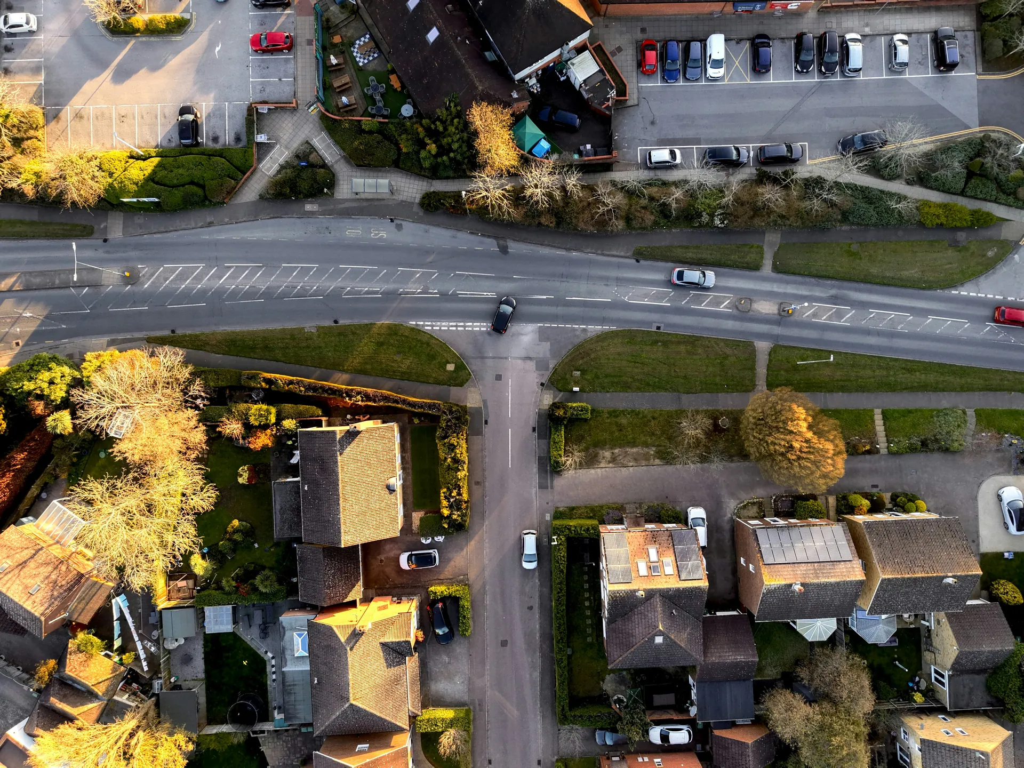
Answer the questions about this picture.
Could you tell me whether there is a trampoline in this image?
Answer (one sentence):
Yes, I can see a trampoline in this picture.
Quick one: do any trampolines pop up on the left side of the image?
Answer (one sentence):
Yes, a trampoline is visible on the left side of the image.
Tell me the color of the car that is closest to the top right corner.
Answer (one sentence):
The car that is closest to the top right corner looks black in the image.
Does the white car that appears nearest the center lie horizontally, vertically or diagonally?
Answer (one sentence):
Seen from above, the white car that appears nearest the center lies vertically.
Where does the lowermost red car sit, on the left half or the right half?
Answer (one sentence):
The lowermost red car appears in the right half of the scene.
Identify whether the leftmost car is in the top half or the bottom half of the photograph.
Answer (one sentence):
It is in the top half that the leftmost car appears.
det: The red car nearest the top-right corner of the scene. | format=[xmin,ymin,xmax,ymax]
[990,306,1024,327]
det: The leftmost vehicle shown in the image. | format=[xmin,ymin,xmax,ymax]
[0,11,39,34]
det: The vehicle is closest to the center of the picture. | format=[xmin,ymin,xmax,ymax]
[490,295,517,337]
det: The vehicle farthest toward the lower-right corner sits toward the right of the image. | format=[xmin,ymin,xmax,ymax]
[995,488,1024,535]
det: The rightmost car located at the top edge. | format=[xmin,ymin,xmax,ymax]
[932,27,959,73]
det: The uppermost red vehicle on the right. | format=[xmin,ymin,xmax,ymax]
[639,40,659,77]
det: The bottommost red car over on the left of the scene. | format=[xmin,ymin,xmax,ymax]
[252,31,294,54]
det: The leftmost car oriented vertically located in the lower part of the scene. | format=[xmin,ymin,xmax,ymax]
[429,598,455,644]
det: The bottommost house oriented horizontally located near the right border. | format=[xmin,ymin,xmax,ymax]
[895,711,1015,768]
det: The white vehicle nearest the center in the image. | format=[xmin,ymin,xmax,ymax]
[519,529,539,570]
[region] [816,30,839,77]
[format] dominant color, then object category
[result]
black car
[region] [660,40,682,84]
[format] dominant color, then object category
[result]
blue car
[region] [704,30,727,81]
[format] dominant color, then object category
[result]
white vehicle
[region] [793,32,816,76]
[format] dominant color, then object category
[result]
black car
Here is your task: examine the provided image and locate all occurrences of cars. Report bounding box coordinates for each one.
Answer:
[669,267,714,289]
[252,31,294,54]
[660,40,682,84]
[429,598,455,644]
[400,549,439,571]
[592,726,630,750]
[840,34,864,78]
[0,11,39,34]
[932,27,959,73]
[490,295,517,337]
[793,32,816,76]
[836,128,887,157]
[176,105,200,148]
[687,506,710,550]
[519,529,539,570]
[703,144,748,167]
[645,147,681,168]
[648,723,693,748]
[757,142,801,164]
[886,33,910,73]
[639,40,659,77]
[251,0,292,13]
[816,30,839,77]
[682,41,704,82]
[990,306,1024,327]
[750,35,773,76]
[995,488,1024,535]
[536,104,582,134]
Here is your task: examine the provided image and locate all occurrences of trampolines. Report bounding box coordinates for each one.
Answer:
[227,694,263,730]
